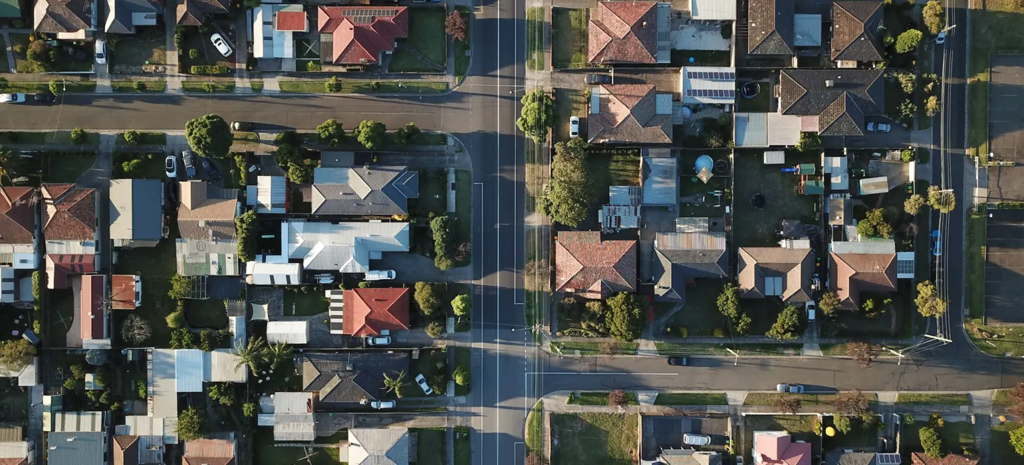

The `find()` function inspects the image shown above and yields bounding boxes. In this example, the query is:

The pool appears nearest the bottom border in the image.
[694,154,713,172]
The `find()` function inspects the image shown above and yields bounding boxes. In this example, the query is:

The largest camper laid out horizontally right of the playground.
[850,177,887,193]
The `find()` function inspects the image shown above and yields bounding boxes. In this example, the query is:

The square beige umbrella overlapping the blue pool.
[696,167,714,185]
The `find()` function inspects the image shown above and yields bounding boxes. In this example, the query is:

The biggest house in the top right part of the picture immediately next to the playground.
[731,69,885,147]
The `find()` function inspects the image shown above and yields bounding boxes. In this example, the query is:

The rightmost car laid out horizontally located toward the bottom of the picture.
[775,382,804,394]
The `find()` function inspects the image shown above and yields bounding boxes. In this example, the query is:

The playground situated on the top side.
[781,164,824,194]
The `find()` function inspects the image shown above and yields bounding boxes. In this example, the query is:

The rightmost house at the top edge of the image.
[828,0,893,68]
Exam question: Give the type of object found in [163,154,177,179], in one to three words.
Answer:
car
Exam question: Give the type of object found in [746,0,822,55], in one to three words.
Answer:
house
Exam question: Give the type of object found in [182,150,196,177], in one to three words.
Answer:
vehicle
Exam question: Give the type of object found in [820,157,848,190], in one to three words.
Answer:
shed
